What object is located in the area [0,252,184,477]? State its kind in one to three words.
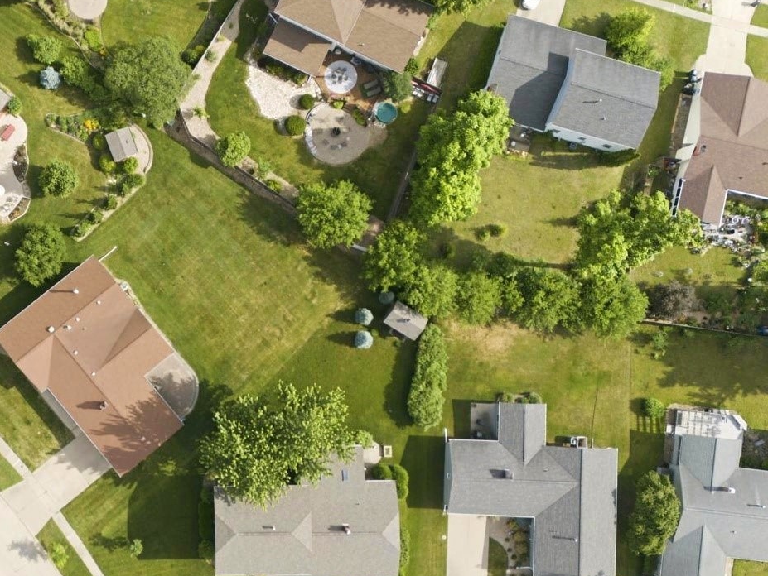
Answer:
house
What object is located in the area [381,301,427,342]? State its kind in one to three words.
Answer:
shed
